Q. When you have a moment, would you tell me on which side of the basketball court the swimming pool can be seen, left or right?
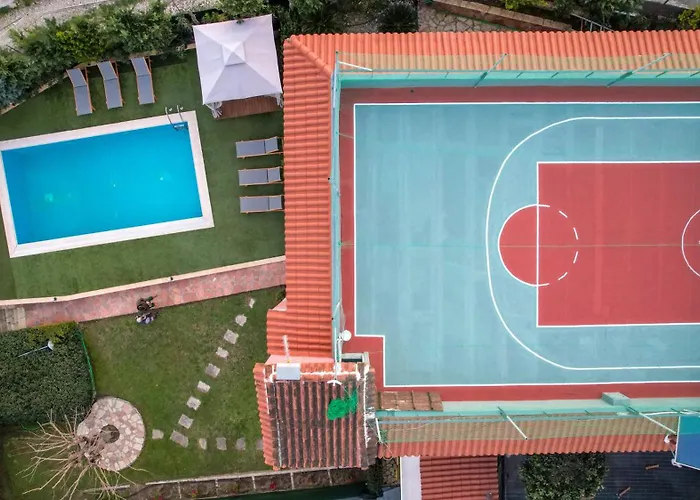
to its left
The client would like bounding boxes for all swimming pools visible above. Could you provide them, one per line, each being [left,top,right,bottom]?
[0,103,213,257]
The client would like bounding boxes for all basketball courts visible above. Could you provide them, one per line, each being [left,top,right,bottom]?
[340,88,700,401]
